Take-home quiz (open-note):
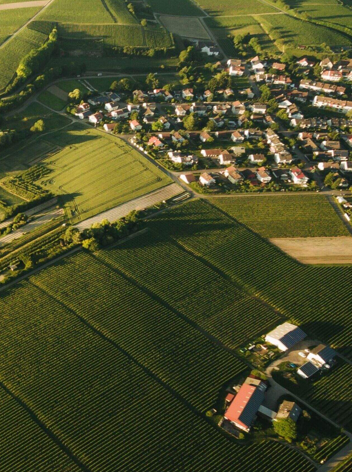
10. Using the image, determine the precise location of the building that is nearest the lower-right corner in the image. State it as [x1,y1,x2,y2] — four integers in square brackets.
[274,401,303,424]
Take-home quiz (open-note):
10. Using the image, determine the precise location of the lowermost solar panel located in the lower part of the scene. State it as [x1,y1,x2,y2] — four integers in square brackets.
[240,388,263,427]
